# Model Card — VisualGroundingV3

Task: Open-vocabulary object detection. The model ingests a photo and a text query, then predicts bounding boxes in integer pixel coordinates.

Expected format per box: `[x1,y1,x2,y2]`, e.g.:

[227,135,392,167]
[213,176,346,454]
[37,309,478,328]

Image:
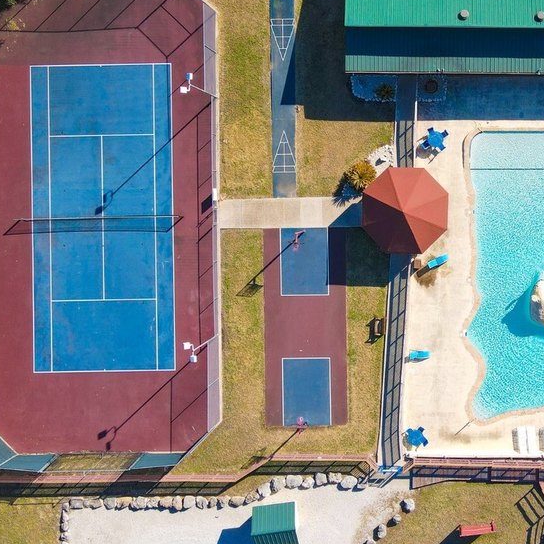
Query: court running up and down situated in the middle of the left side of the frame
[0,0,223,456]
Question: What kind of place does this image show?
sports ground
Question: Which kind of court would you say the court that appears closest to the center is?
basketball court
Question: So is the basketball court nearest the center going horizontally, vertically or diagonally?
vertically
